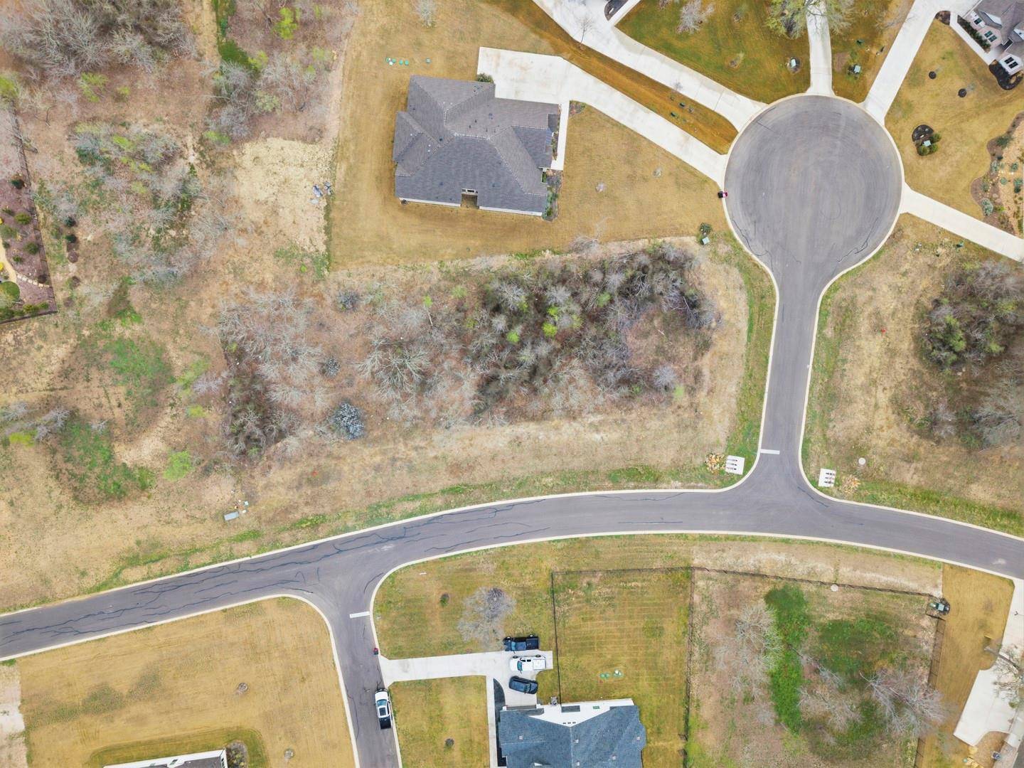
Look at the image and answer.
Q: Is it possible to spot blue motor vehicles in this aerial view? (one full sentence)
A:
Yes, the picture does show a blue motor vehicle.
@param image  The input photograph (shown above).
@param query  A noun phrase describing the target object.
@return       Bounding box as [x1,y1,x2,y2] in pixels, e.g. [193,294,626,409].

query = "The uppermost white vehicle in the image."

[509,655,546,674]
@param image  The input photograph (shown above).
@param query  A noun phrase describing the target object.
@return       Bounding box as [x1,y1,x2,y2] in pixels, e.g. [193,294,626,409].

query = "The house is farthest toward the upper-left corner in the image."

[393,75,559,215]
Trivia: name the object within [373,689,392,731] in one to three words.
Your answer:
vehicle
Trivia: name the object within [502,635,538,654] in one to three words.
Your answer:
vehicle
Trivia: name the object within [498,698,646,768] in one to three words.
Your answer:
house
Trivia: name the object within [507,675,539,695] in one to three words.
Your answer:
car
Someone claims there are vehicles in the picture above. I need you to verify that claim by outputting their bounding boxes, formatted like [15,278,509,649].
[507,675,539,695]
[509,655,546,674]
[373,689,392,731]
[502,635,538,654]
